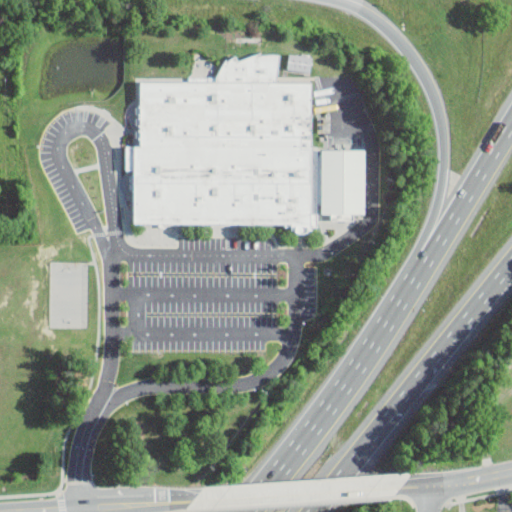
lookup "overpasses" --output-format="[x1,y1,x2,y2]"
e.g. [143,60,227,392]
[188,472,410,512]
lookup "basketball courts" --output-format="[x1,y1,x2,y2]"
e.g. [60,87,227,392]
[50,262,88,329]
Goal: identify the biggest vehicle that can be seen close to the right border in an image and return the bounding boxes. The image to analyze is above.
[486,124,504,154]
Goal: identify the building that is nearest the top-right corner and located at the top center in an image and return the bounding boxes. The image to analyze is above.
[288,54,312,76]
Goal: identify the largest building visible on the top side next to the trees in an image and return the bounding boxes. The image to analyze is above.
[126,55,320,236]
